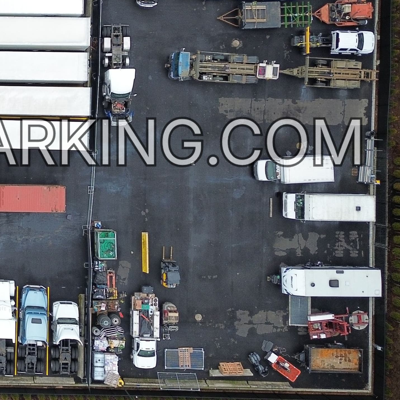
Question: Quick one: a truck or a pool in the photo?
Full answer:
The image shows a truck.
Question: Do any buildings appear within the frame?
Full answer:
No, there's no building here.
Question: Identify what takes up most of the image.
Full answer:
What you mostly see from above here is paved ground.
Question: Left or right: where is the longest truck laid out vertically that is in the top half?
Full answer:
The longest truck laid out vertically that is in the top half is on the left side of the image.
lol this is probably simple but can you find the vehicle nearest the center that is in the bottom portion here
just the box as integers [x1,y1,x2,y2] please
[160,246,179,289]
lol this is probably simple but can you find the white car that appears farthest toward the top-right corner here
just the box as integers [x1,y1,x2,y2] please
[327,28,374,54]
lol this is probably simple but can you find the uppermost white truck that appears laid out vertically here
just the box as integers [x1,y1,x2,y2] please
[102,24,139,127]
